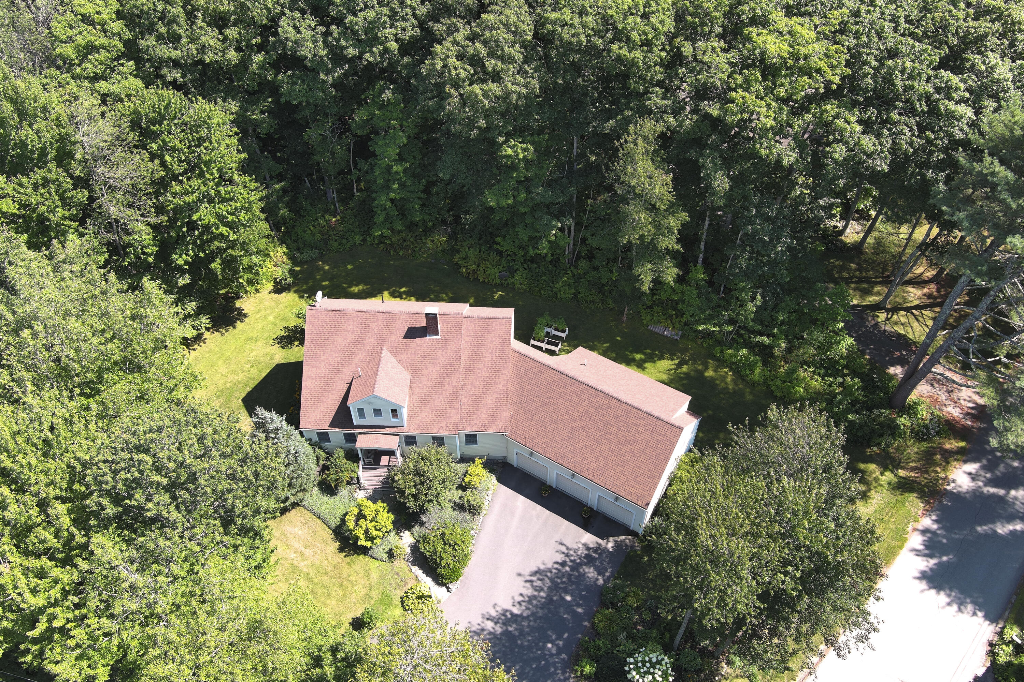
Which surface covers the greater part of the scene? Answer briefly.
trees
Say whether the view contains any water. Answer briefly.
No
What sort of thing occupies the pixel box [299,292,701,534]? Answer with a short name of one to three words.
house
